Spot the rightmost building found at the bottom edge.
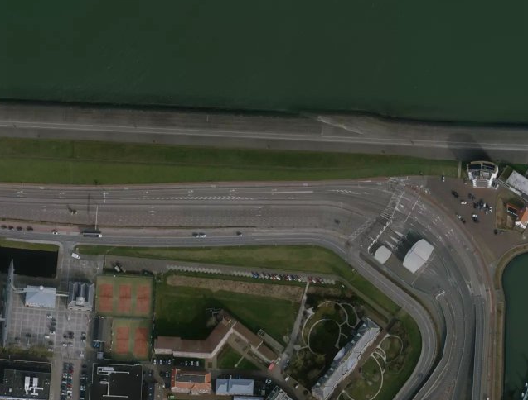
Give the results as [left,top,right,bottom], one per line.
[312,318,381,400]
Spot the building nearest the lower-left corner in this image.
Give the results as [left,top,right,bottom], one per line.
[0,359,52,400]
